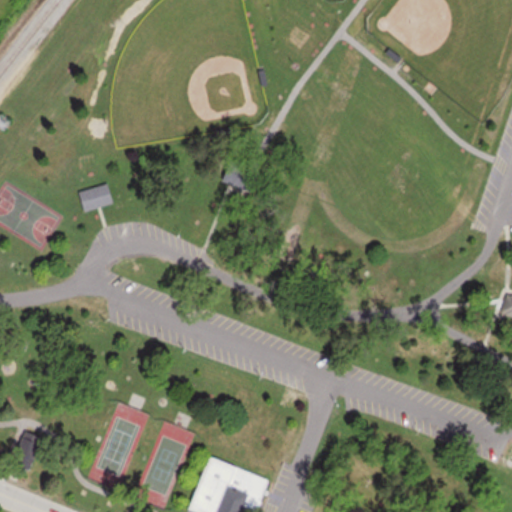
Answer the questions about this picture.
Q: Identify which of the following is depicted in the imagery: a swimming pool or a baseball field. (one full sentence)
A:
This aerial view contains a baseball field.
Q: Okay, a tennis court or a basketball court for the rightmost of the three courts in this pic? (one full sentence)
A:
Looking closely, the rightmost of the three courts is a tennis court.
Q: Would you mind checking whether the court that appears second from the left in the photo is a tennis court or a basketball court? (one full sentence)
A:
In the photo, the court that appears second from the left shows up as a tennis court.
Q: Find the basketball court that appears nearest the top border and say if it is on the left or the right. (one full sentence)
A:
The basketball court that appears nearest the top border is on the left side of the image.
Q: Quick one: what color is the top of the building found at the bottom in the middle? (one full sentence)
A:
The roof over the building found at the bottom in the middle appears white.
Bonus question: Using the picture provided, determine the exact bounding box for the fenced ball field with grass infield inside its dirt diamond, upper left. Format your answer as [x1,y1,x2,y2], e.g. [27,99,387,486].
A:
[111,0,268,148]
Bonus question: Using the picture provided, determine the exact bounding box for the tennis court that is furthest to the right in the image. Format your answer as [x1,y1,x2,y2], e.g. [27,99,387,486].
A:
[134,422,195,508]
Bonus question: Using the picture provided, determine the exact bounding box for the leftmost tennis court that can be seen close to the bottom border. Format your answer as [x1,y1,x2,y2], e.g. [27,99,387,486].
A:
[88,403,149,490]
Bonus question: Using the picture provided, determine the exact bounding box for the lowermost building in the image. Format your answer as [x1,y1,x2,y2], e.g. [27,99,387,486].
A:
[189,457,269,512]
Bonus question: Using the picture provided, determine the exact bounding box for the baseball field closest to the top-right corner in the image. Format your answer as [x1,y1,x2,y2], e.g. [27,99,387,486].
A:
[366,0,512,120]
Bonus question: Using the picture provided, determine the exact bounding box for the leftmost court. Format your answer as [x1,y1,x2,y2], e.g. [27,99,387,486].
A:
[0,180,65,252]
